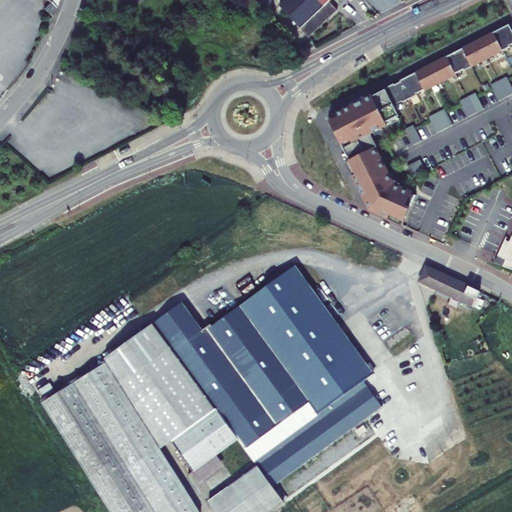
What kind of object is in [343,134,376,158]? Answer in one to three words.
building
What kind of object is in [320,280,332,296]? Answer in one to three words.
vehicle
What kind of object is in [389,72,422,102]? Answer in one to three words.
house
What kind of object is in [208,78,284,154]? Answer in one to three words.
roundabout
